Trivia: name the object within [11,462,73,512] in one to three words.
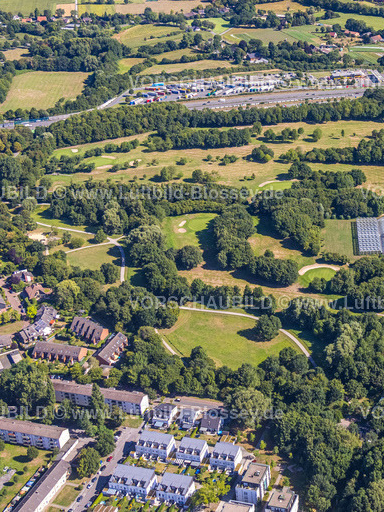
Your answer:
building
